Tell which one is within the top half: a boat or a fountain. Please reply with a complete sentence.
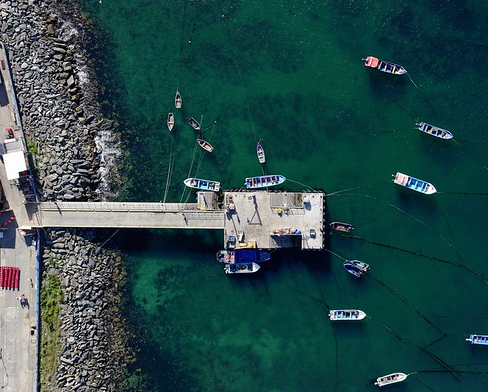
The feature located within the top half is a boat.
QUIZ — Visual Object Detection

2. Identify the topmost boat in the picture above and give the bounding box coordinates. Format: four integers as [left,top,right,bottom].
[359,54,408,73]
